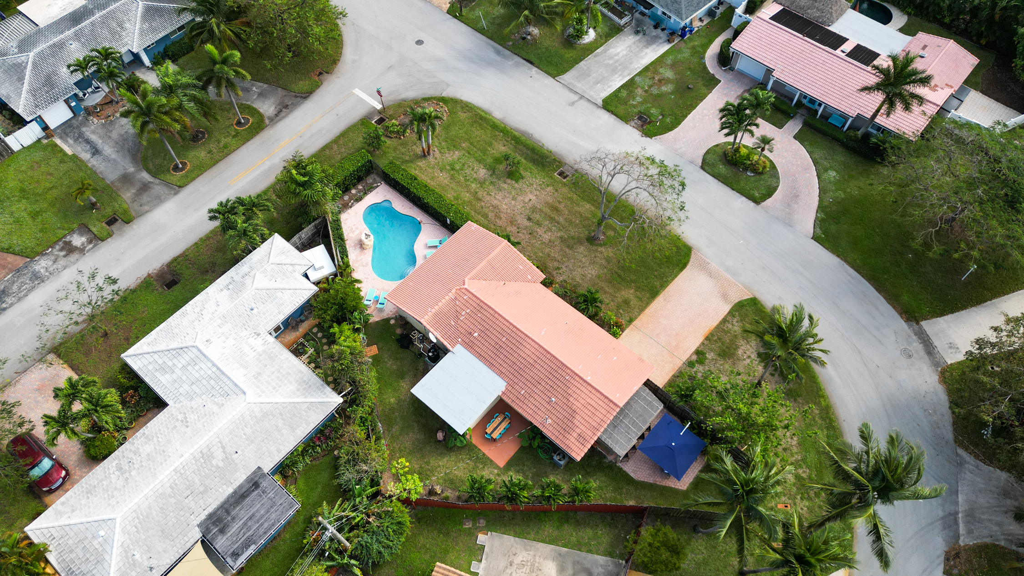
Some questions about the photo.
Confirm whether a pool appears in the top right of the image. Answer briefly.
Yes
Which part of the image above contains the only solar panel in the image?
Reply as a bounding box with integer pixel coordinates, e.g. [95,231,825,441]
[763,8,904,74]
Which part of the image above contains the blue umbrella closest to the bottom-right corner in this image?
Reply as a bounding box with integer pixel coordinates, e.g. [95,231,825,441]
[638,413,705,481]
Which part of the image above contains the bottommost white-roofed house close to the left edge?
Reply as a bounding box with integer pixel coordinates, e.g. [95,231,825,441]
[21,232,344,576]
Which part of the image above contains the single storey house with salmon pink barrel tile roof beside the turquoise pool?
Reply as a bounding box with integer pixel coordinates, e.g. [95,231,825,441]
[386,222,658,463]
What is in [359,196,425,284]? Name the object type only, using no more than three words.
swimming pool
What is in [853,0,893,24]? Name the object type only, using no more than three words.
swimming pool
